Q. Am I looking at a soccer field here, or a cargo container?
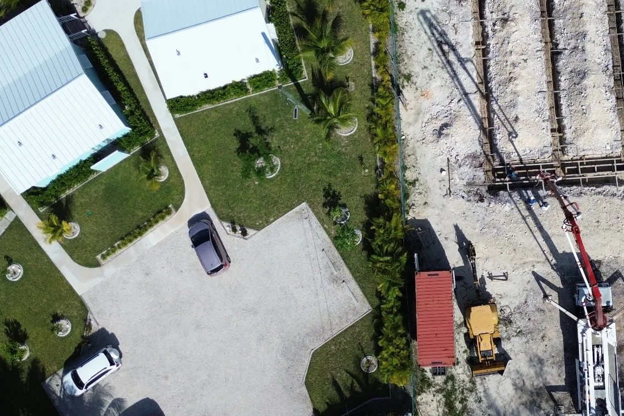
cargo container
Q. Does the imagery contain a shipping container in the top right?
No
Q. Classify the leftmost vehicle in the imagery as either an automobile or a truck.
automobile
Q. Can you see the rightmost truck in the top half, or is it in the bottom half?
bottom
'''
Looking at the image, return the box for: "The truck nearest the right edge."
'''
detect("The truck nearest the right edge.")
[531,172,624,416]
